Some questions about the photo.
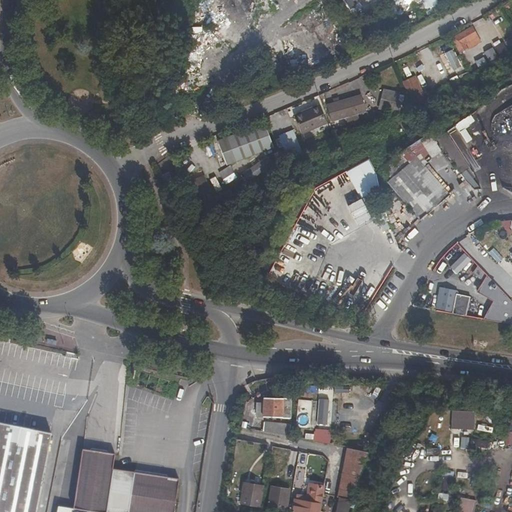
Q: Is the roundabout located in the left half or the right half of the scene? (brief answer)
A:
left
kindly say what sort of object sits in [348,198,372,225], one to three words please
building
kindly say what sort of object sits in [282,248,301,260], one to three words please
vehicle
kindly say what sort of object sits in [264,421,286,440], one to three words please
building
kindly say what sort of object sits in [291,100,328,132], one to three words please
house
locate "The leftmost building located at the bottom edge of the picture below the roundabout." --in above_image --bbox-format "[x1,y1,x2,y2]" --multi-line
[0,424,52,512]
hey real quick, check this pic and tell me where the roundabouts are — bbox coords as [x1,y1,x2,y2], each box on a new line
[0,120,133,314]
